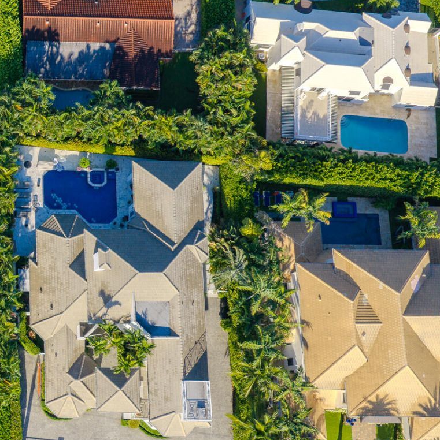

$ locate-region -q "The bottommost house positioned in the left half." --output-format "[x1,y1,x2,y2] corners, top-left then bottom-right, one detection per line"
[28,159,212,437]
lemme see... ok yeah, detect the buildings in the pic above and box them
[28,159,212,437]
[243,0,439,143]
[22,0,174,91]
[269,206,440,440]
